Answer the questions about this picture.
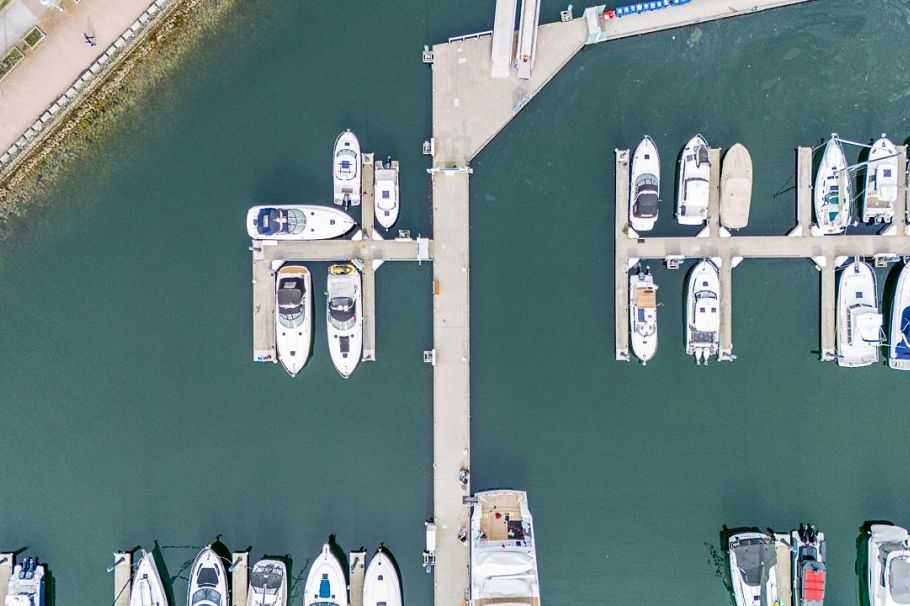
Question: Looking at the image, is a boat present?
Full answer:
Yes, the image includes a boat.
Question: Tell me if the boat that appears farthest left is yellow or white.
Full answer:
The color of the boat that appears farthest left is white.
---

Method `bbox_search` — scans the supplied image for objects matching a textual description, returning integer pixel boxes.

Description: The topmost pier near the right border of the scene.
[615,147,910,363]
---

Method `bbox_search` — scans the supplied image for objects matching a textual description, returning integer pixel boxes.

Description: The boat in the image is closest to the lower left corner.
[3,559,47,606]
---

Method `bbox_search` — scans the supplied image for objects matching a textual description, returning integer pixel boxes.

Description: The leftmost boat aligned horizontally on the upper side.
[247,205,359,243]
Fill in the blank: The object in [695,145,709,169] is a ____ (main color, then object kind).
gray boat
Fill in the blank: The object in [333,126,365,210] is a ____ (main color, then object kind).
white boat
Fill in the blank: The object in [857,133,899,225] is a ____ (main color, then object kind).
white boat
